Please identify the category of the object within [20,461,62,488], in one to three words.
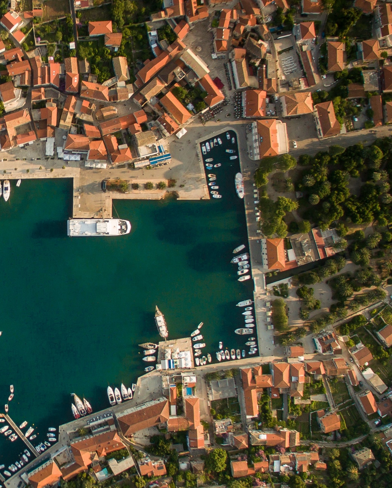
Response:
house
